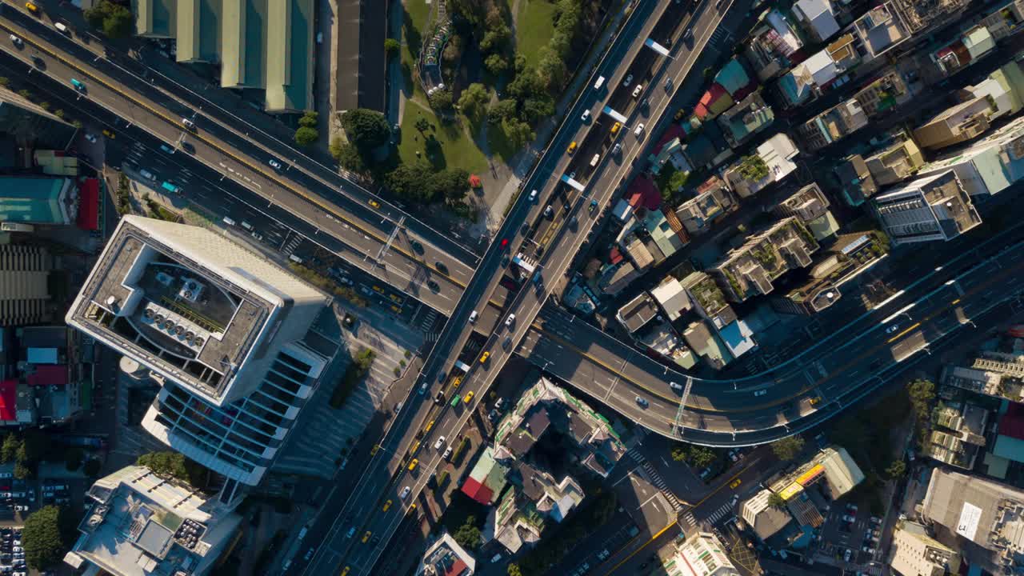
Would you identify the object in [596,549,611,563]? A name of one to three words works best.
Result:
vehicle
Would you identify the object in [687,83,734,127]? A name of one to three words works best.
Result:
building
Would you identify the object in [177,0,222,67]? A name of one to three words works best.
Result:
shed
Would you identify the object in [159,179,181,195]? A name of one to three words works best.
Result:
vehicle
